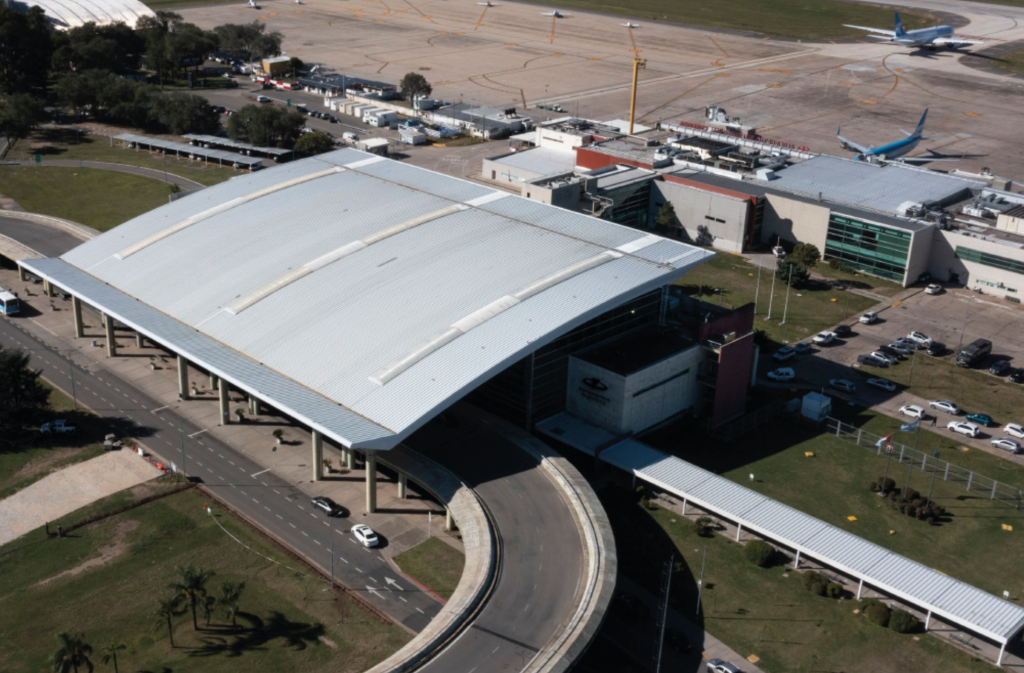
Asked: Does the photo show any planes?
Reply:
Yes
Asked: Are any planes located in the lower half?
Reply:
No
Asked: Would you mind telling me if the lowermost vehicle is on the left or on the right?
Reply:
right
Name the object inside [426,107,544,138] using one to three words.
building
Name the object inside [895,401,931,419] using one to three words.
car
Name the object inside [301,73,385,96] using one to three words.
building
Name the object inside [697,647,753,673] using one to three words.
vehicle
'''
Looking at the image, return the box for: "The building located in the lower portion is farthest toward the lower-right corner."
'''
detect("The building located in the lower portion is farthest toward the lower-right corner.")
[805,387,834,422]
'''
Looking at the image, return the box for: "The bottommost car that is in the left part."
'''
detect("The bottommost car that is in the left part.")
[350,521,383,545]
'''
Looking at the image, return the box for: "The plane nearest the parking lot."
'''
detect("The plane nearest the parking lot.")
[836,106,964,164]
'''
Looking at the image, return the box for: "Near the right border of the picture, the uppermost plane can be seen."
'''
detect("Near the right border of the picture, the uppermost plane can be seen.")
[851,14,988,52]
